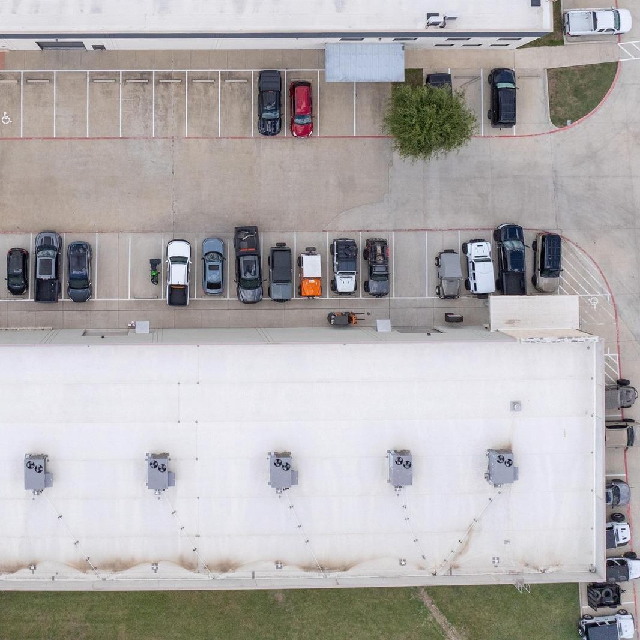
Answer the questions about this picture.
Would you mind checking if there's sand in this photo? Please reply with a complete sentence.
No, no sand is visible.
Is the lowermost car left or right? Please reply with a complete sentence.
It is on the right.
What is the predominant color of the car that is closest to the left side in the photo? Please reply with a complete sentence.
The color of the car that is closest to the left side is black.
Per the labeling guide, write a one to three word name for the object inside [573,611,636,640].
car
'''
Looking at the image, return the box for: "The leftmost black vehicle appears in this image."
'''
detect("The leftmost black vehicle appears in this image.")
[4,246,30,295]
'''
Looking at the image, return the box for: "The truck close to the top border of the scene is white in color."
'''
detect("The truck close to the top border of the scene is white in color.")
[558,7,632,37]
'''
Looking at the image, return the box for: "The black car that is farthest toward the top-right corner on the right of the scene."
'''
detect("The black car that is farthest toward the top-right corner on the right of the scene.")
[488,68,520,128]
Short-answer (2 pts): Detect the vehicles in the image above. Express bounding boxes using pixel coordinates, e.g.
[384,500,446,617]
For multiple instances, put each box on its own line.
[233,225,265,304]
[330,237,358,294]
[558,7,632,37]
[199,237,227,295]
[490,221,527,295]
[31,228,64,301]
[605,512,633,546]
[325,311,364,328]
[256,70,285,137]
[297,246,323,298]
[65,240,94,303]
[488,68,520,128]
[603,381,638,411]
[605,479,632,509]
[149,258,161,285]
[288,80,316,138]
[606,551,640,584]
[604,420,640,451]
[267,243,294,303]
[461,235,494,298]
[4,246,30,295]
[364,235,390,294]
[573,611,636,640]
[432,245,462,299]
[163,237,192,306]
[531,232,564,293]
